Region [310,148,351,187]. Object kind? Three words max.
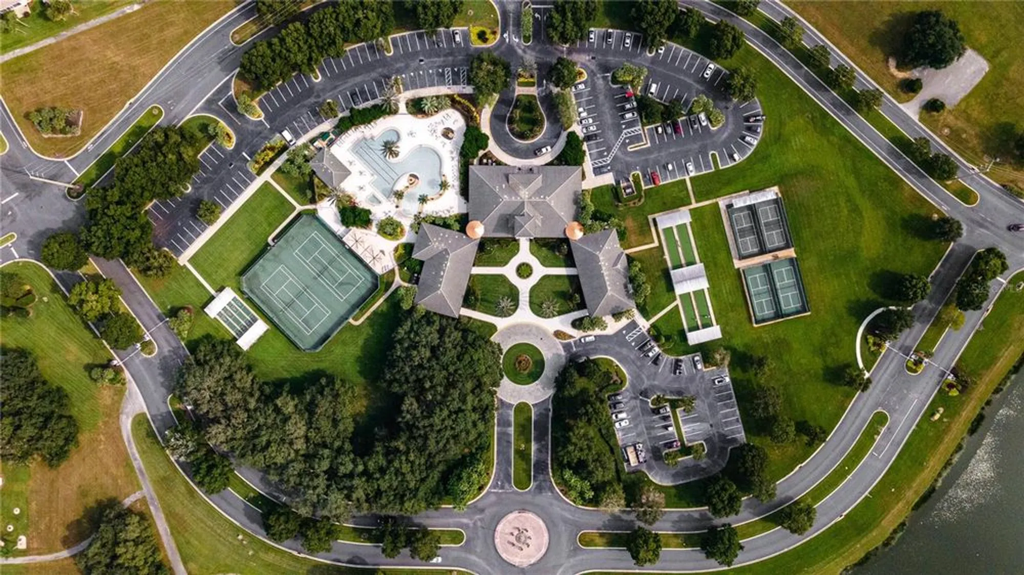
building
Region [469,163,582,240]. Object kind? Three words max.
building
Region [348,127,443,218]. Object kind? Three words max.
swimming pool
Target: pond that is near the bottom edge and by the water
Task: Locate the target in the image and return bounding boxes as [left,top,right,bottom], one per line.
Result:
[839,352,1024,575]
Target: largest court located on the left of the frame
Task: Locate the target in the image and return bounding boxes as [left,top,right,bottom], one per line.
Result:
[245,216,376,350]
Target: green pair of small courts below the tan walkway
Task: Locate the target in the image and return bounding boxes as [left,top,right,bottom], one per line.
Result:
[739,256,810,326]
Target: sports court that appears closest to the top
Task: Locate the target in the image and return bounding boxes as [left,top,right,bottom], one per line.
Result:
[720,186,795,260]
